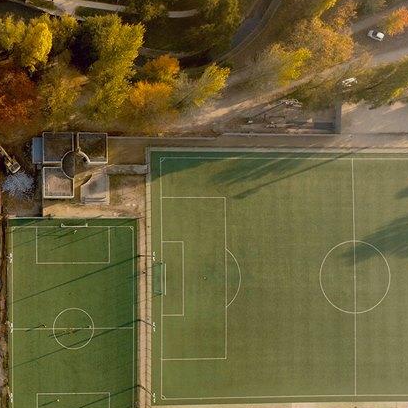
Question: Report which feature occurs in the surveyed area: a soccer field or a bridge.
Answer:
soccer field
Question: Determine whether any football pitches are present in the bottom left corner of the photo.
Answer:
Yes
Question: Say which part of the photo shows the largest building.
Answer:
left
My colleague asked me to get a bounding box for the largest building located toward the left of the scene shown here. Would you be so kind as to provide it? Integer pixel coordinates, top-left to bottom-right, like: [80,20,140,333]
[41,133,107,199]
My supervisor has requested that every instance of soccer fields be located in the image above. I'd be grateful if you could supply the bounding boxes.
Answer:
[8,219,137,408]
[151,153,408,404]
